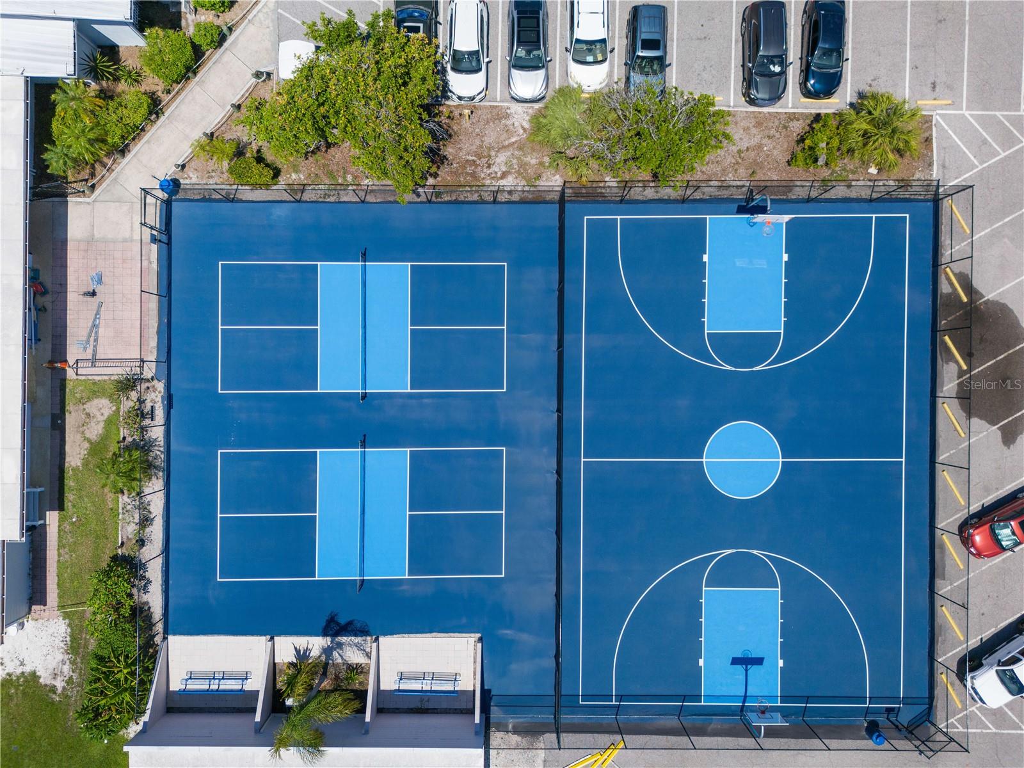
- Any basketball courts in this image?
Yes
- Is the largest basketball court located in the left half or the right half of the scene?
right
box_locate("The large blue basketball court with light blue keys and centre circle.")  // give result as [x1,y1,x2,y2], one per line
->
[559,199,941,722]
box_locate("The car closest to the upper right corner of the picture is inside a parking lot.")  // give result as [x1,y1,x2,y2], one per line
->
[801,0,854,101]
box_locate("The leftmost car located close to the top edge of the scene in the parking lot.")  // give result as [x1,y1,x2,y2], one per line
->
[442,0,492,103]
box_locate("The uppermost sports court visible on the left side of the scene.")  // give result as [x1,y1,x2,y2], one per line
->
[219,262,507,392]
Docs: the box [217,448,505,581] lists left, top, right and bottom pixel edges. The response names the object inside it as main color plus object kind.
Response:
blue sports court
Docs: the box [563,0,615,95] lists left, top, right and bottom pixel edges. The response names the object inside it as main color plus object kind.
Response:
white car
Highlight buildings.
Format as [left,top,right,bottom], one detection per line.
[0,79,40,541]
[0,0,169,45]
[120,712,485,768]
